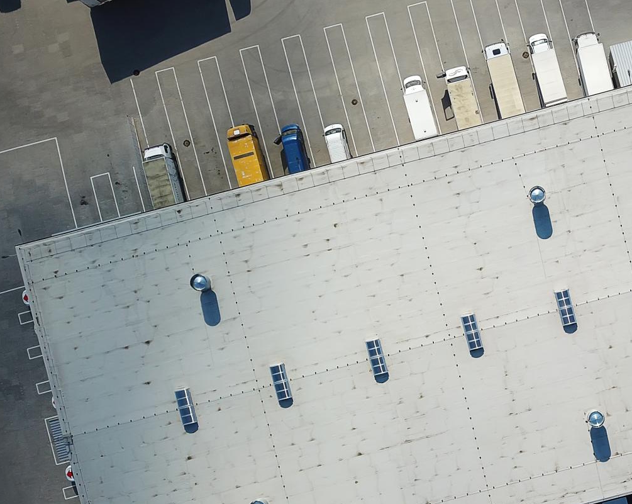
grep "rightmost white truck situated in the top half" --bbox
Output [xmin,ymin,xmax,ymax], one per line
[571,31,614,97]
